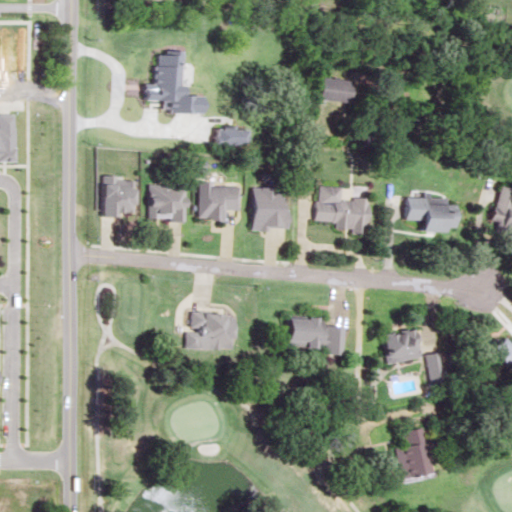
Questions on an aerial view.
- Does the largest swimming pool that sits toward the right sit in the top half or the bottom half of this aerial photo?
bottom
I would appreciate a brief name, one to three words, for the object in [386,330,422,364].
house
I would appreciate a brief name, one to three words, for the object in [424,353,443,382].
building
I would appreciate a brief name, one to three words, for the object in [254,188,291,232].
house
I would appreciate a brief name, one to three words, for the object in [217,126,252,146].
shed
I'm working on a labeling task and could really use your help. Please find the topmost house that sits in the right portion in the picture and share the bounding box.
[324,78,357,104]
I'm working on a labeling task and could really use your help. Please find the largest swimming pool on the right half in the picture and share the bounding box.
[388,376,422,400]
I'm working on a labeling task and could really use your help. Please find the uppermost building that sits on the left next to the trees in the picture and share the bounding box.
[145,50,209,113]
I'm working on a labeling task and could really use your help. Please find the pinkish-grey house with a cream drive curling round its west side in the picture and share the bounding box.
[182,312,238,350]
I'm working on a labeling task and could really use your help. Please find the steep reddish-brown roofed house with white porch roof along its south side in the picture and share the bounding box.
[396,428,437,486]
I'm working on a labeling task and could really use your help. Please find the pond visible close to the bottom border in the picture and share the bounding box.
[129,460,264,512]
